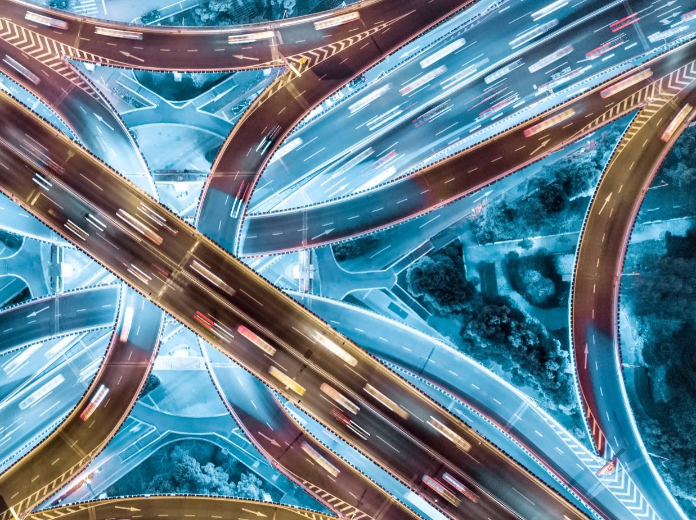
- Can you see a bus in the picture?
Yes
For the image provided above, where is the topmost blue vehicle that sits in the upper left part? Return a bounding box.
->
[139,9,162,23]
